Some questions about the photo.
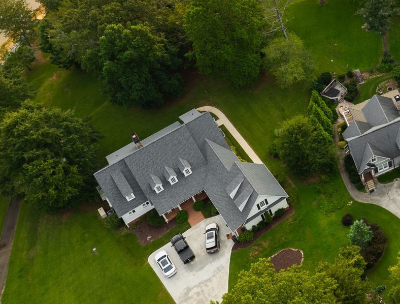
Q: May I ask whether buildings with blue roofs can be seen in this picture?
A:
No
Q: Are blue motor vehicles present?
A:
No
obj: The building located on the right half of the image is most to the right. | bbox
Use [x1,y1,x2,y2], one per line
[339,89,400,193]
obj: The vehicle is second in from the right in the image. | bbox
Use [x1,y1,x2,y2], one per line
[171,232,197,268]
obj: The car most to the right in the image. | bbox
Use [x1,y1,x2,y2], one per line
[203,223,220,256]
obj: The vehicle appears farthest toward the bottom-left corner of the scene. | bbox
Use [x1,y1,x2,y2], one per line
[155,249,178,281]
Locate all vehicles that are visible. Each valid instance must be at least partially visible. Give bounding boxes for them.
[203,223,220,256]
[155,249,178,281]
[171,232,197,268]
